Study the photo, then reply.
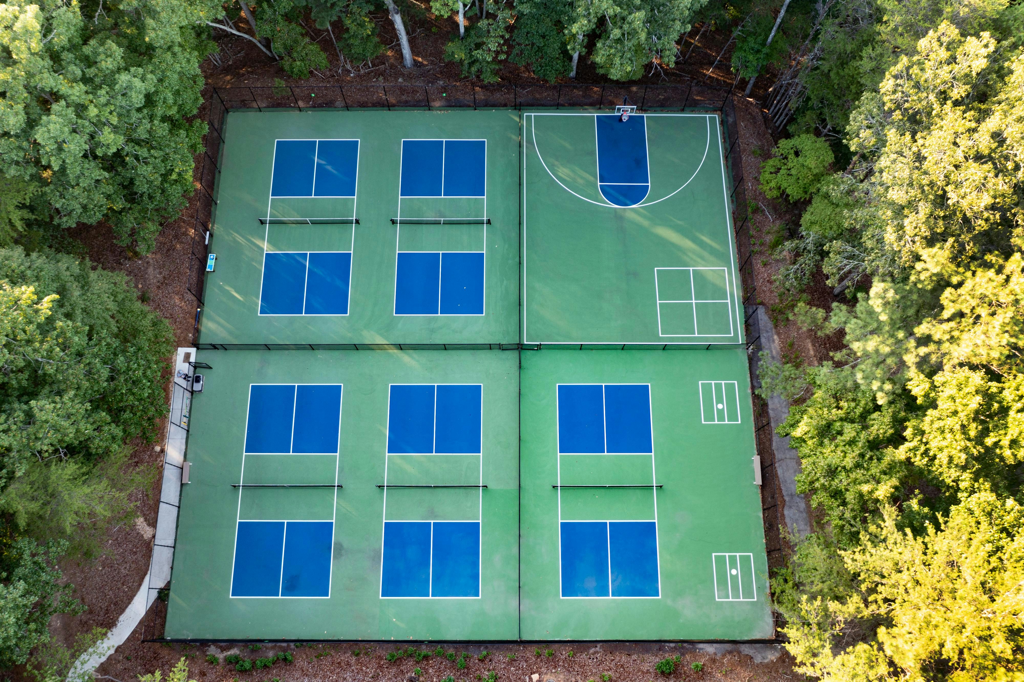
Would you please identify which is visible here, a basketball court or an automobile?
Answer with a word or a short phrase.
basketball court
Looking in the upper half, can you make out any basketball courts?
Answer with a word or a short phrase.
Yes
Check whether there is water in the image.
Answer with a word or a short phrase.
No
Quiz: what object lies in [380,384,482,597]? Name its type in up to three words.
sports court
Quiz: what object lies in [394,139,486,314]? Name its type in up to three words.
sports court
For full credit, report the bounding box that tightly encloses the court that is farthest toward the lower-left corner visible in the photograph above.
[230,384,343,597]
